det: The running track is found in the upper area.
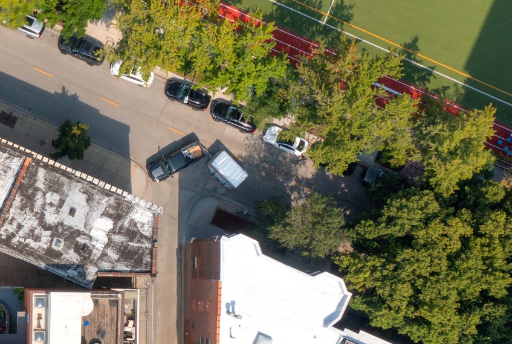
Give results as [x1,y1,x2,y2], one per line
[173,0,512,162]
